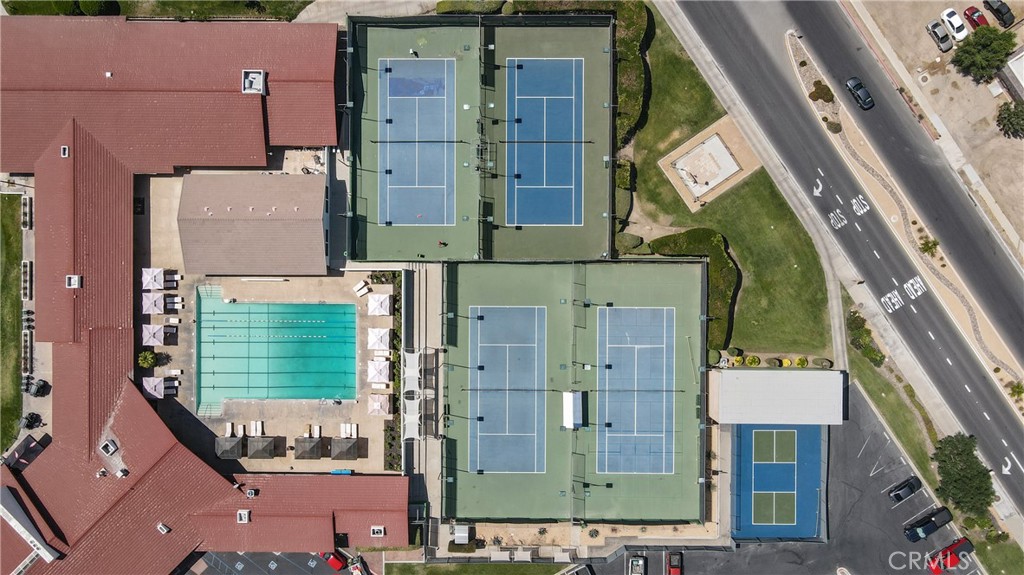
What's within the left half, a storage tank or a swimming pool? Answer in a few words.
swimming pool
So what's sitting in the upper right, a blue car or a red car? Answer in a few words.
red car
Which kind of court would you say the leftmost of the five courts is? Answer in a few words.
tennis court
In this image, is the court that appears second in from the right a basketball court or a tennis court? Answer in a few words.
tennis court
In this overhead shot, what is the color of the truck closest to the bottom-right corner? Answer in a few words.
red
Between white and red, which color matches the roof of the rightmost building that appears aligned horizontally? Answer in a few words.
white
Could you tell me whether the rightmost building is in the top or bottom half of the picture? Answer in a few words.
top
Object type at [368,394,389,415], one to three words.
umbrella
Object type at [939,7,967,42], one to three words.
car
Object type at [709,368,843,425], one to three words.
building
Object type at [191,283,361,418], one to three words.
swimming pool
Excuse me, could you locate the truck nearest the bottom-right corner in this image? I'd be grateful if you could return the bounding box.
[930,539,974,571]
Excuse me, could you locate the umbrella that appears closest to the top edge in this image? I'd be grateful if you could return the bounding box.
[142,268,164,289]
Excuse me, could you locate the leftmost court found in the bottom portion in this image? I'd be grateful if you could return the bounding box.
[444,262,573,518]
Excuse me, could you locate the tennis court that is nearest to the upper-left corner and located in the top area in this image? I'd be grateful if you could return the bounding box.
[352,24,481,261]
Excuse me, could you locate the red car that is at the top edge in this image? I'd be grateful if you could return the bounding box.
[962,2,989,33]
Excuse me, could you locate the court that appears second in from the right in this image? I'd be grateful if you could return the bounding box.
[573,262,701,518]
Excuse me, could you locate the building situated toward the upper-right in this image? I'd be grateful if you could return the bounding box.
[996,51,1024,108]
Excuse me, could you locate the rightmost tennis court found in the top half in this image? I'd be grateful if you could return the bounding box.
[481,24,611,261]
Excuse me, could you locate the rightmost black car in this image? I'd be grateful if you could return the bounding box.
[983,0,1012,28]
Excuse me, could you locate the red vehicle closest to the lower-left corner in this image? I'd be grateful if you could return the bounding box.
[320,552,347,574]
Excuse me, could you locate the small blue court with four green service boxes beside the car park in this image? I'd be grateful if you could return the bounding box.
[732,425,821,538]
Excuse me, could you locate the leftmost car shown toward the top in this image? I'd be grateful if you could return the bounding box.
[845,77,873,111]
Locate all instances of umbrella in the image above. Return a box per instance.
[368,361,389,382]
[143,377,165,398]
[368,328,390,350]
[142,323,164,344]
[142,292,164,314]
[368,394,389,415]
[368,294,390,315]
[142,268,164,289]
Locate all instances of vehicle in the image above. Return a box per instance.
[845,77,873,111]
[926,20,951,53]
[667,551,683,575]
[939,7,967,42]
[962,2,989,33]
[983,0,1012,28]
[905,507,952,541]
[930,539,974,571]
[888,476,921,501]
[346,556,367,575]
[320,552,347,574]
